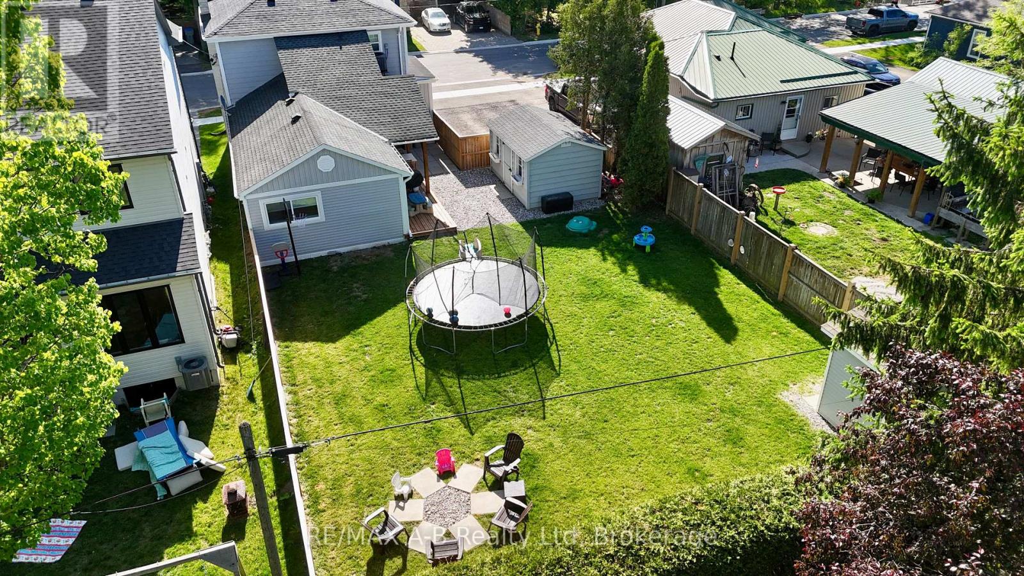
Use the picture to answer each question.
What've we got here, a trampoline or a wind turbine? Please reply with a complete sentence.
There is a trampoline in the scene.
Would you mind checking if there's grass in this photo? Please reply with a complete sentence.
Yes, the picture does contain grass.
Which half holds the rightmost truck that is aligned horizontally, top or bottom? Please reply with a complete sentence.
You can find the rightmost truck that is aligned horizontally in the top half.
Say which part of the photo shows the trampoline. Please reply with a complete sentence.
The trampoline appears toward the center of the photo.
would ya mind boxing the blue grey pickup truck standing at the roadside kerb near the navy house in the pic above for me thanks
[843,0,925,34]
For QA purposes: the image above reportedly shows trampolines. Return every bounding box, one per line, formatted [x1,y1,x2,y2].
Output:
[399,212,544,356]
